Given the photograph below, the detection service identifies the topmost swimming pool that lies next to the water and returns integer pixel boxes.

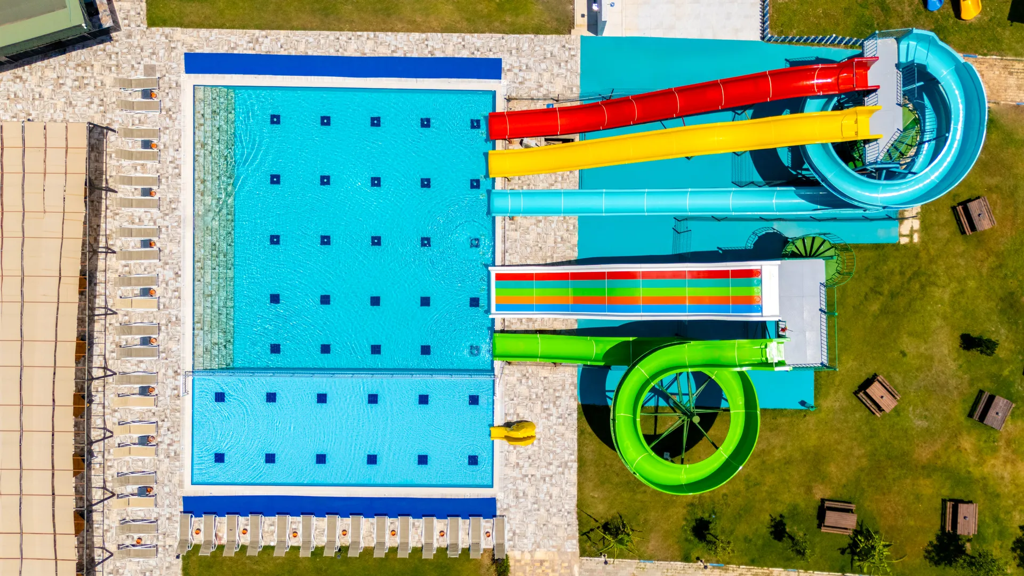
[179,75,508,377]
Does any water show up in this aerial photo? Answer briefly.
Yes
